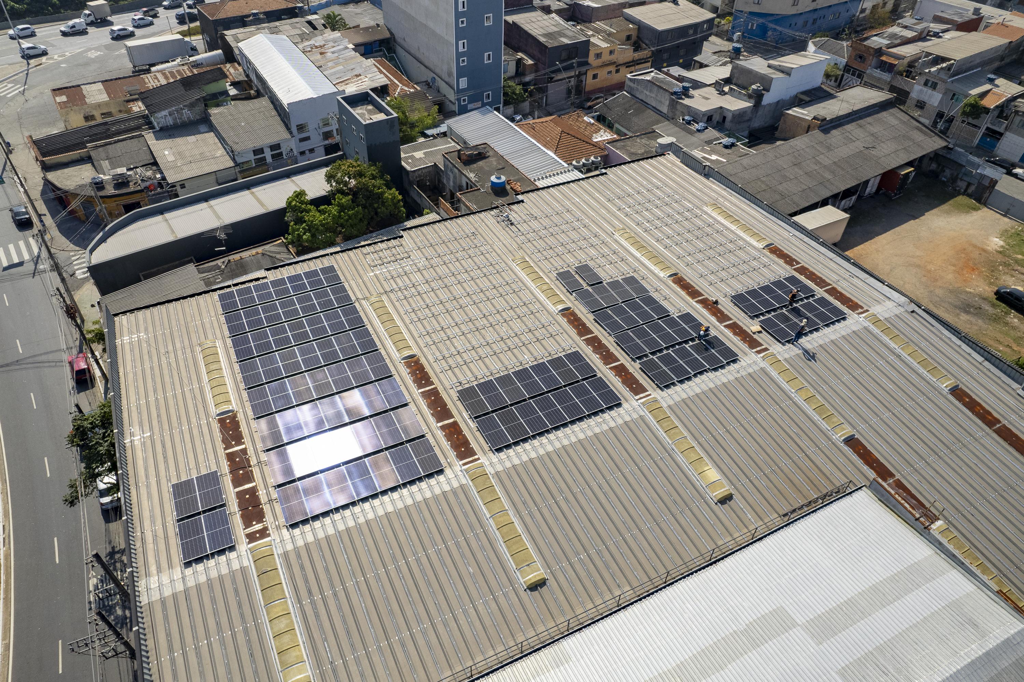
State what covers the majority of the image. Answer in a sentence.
The largest share of the image is taken up by buildings.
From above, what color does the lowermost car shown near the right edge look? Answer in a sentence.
The lowermost car shown near the right edge looks black in the image.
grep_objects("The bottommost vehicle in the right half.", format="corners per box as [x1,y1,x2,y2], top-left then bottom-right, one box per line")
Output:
[993,283,1024,314]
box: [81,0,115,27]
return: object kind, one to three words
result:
truck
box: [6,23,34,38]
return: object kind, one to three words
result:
car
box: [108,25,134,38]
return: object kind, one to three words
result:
vehicle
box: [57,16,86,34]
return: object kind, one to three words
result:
vehicle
